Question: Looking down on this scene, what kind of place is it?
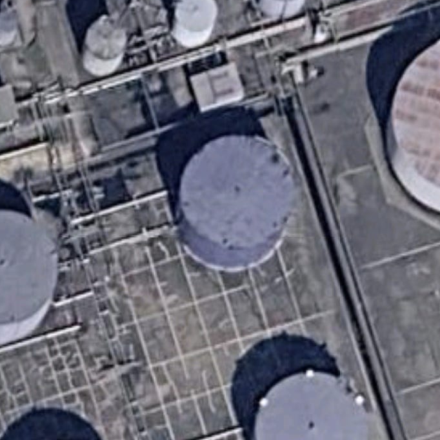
industrial area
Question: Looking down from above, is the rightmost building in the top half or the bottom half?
top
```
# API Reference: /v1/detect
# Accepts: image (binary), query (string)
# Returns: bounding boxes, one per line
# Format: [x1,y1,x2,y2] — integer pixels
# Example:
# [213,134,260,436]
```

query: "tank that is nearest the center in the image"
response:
[171,132,295,272]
